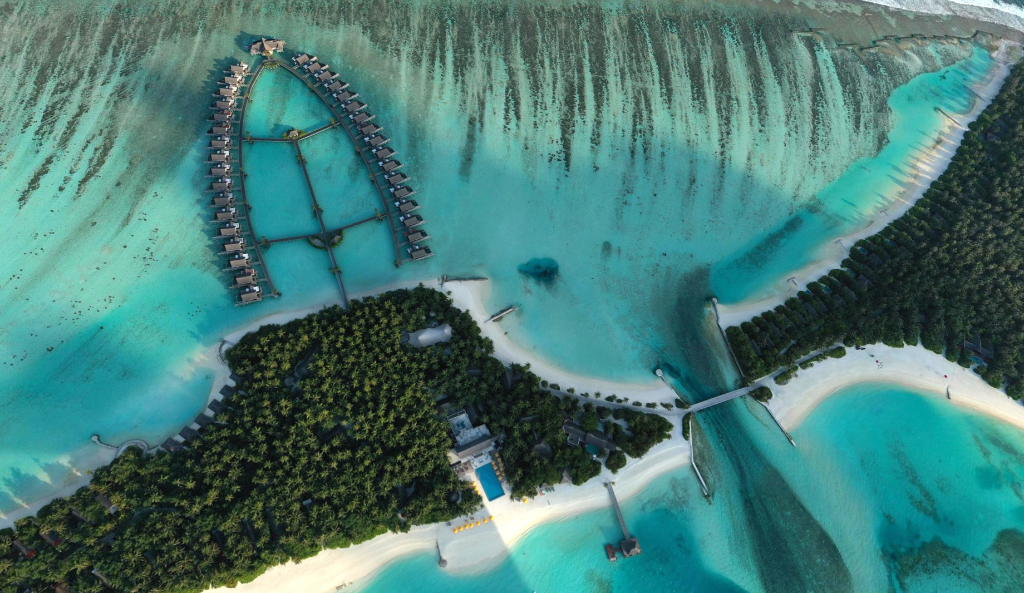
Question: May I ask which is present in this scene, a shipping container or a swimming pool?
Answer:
swimming pool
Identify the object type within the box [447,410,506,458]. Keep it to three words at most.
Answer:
building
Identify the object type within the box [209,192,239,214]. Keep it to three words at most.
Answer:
house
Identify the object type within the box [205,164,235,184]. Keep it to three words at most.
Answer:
house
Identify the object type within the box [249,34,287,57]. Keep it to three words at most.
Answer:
building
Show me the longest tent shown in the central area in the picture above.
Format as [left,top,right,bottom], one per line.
[408,323,452,348]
